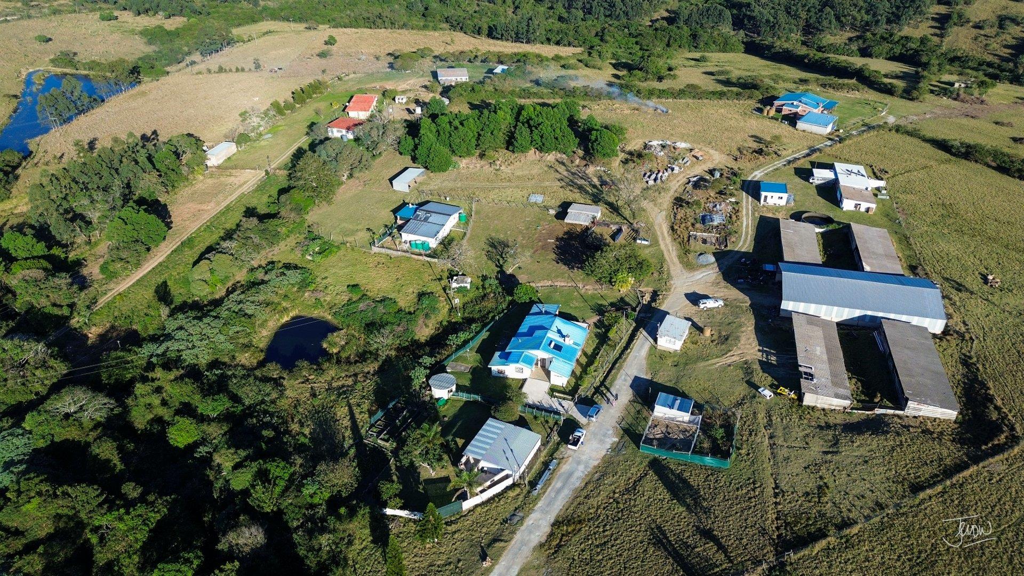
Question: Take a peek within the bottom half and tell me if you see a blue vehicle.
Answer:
Yes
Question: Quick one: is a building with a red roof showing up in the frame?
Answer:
Yes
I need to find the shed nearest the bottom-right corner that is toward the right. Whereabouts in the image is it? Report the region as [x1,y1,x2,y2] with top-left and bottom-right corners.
[881,320,958,421]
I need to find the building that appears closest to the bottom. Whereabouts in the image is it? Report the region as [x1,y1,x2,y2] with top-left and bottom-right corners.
[463,417,538,487]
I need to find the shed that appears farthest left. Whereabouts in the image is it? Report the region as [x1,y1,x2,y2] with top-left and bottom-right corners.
[205,141,237,169]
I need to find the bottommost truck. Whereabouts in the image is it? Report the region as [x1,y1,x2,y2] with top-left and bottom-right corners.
[565,424,589,449]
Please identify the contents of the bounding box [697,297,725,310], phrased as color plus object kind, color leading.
white vehicle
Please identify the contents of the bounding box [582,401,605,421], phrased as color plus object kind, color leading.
blue car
